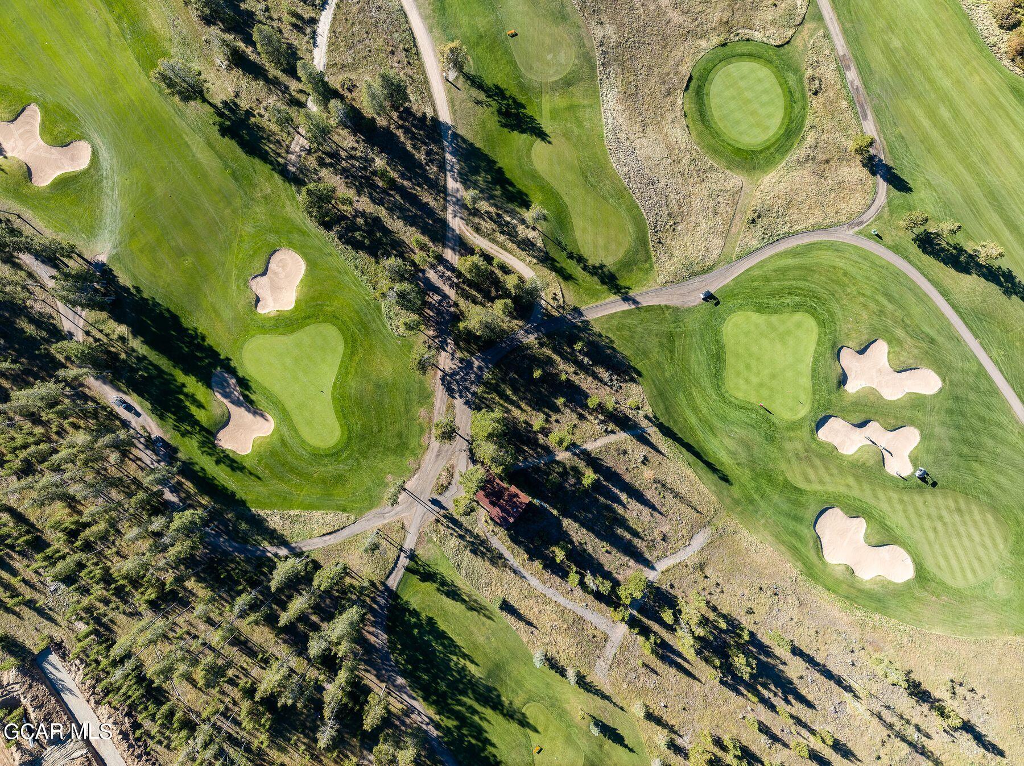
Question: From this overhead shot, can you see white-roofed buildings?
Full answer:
No, this view has no white-roofed building in it.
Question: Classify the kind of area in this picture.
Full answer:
This looks like a golf course.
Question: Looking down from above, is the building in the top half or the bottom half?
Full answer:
The building sits in the bottom half of the picture.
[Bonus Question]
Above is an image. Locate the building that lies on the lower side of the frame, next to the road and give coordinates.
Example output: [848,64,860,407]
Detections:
[472,472,531,525]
